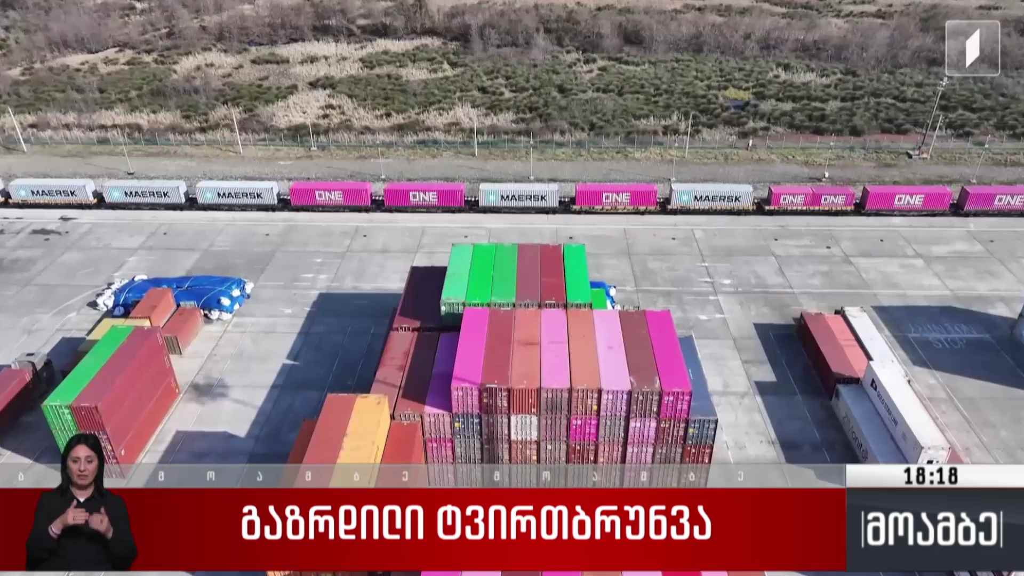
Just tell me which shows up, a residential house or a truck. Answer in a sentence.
Visible in the photo is a truck.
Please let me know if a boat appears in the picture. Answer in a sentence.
No, this view has no boat in it.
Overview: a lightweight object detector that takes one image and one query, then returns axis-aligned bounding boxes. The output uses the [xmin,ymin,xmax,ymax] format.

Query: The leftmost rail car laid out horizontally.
[9,195,106,209]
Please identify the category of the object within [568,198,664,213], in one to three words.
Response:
rail car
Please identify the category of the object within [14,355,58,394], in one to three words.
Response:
truck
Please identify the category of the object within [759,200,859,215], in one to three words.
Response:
rail car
